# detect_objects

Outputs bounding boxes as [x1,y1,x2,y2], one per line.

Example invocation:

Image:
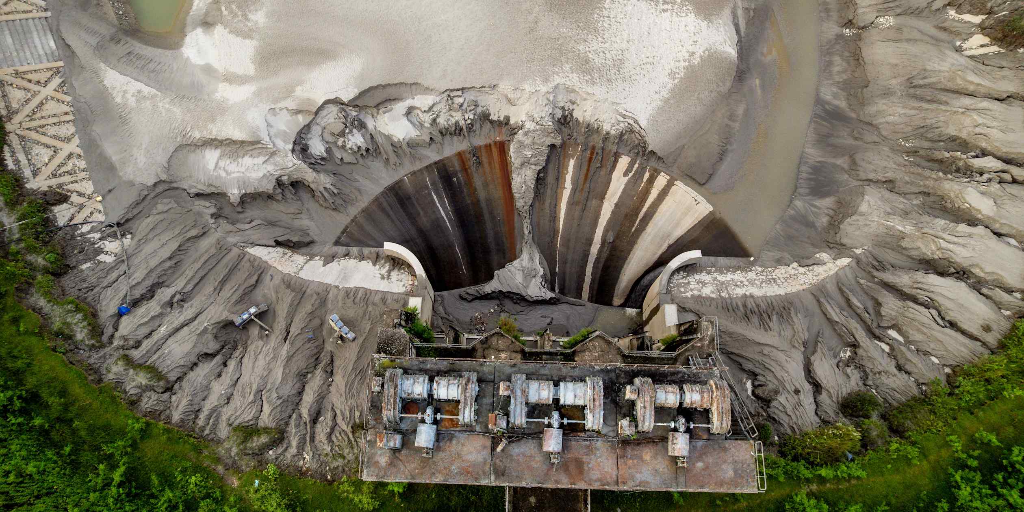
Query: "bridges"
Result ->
[505,487,591,512]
